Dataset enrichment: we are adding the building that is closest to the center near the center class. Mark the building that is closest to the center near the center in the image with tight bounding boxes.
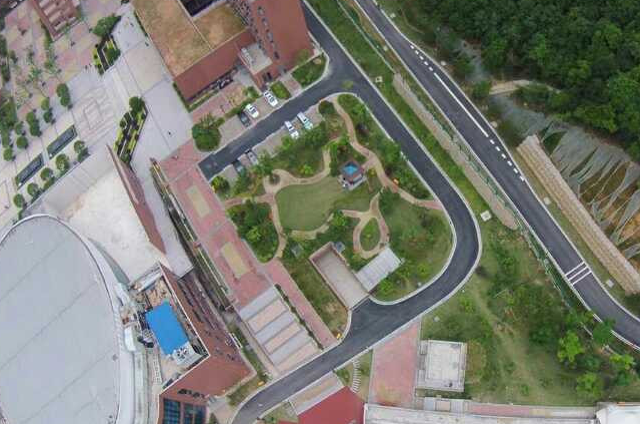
[338,161,366,189]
